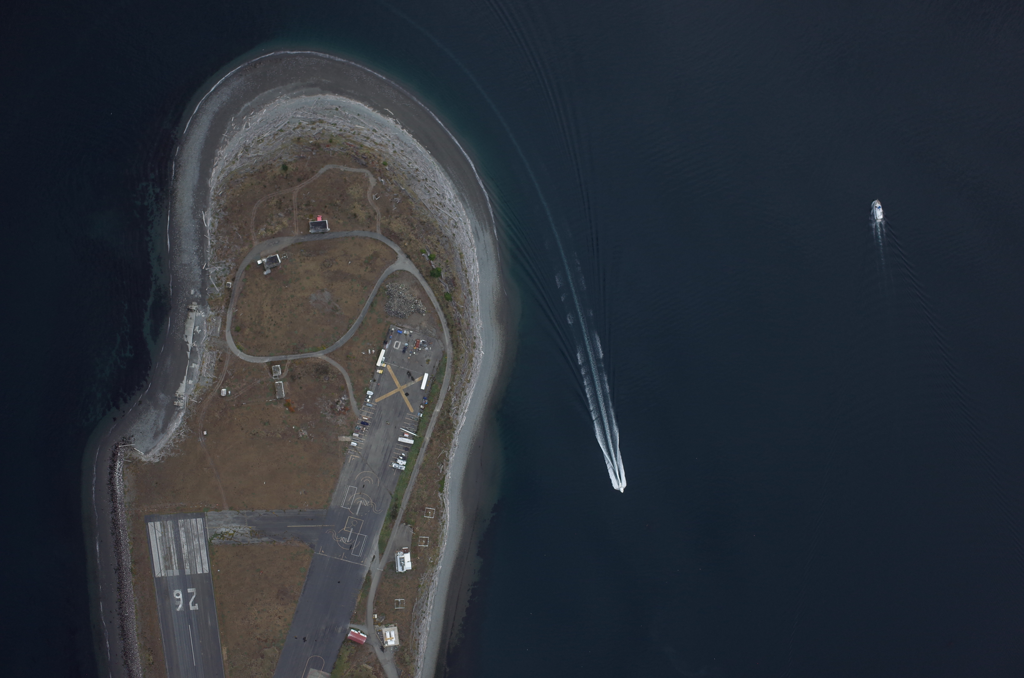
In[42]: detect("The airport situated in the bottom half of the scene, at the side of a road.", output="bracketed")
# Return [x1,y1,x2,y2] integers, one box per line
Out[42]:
[145,325,443,678]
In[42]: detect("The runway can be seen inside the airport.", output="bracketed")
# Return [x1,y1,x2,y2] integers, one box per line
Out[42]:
[145,512,225,678]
